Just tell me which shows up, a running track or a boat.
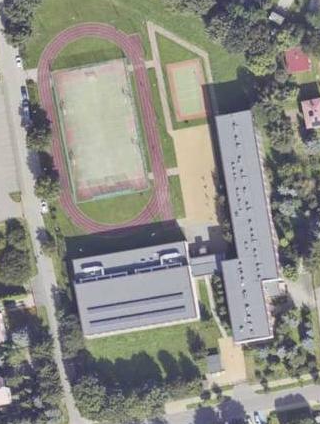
running track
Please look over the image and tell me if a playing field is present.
Yes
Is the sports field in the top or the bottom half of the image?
top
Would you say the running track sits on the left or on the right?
left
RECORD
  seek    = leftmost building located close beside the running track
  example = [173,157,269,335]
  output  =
[73,241,202,341]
